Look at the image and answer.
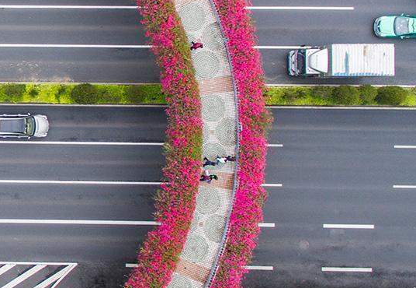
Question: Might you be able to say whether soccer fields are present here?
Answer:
No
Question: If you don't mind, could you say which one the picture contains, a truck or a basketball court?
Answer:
truck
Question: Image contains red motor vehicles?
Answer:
No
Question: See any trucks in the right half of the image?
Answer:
Yes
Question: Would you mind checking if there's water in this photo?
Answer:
No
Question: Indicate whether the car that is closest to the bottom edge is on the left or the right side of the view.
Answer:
left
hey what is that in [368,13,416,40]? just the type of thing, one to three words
car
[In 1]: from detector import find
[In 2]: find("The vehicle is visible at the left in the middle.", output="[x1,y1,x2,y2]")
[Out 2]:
[0,112,47,139]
